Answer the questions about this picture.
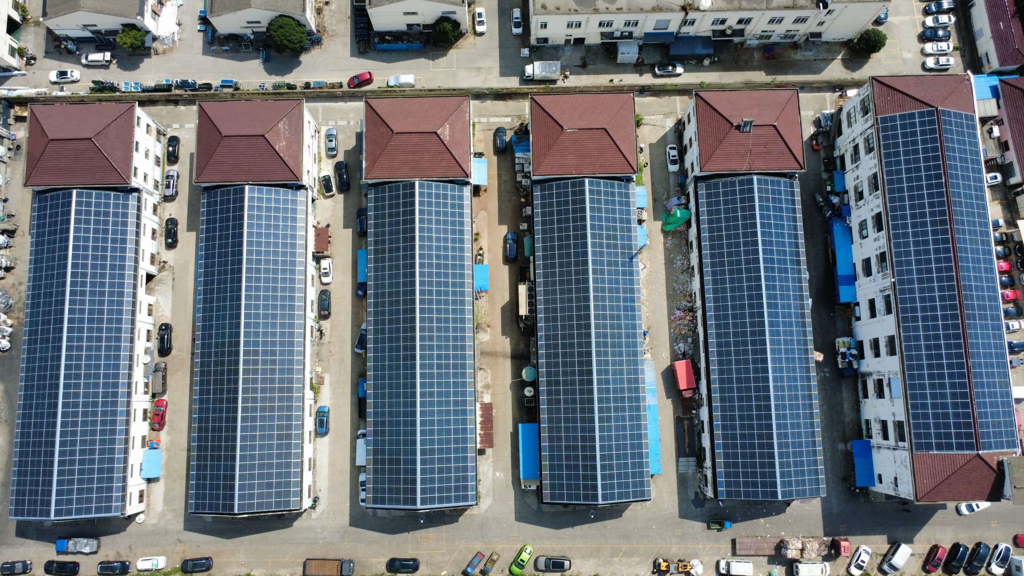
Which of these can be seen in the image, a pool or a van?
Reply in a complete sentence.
This aerial view contains a van.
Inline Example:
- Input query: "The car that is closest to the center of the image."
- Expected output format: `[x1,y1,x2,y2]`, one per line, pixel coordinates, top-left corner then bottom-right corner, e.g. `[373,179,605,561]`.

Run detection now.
[505,231,519,262]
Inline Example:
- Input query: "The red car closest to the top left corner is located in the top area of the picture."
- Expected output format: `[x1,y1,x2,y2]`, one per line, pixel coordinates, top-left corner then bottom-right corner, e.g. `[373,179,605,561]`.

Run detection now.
[348,70,375,86]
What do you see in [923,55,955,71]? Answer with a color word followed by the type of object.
white car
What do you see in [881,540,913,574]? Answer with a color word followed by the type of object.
white van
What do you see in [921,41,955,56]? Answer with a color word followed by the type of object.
white car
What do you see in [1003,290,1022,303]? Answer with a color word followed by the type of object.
red vehicle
